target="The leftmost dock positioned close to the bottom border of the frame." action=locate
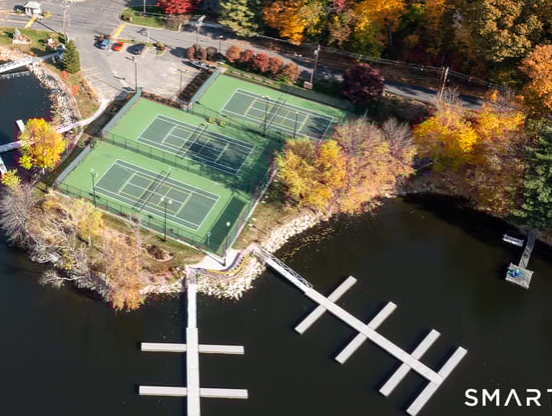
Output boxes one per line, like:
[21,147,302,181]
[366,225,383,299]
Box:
[139,325,248,416]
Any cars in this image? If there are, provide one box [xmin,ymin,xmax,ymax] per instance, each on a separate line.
[111,41,125,50]
[98,41,113,51]
[131,45,145,54]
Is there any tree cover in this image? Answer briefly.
Yes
